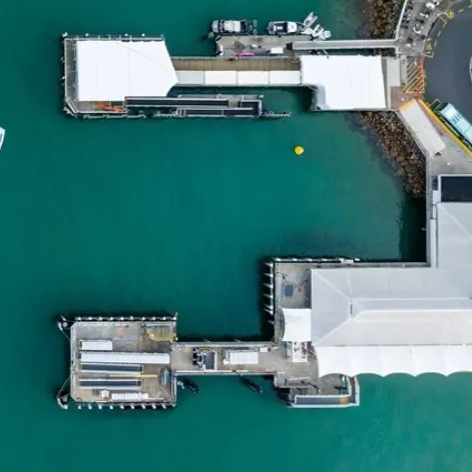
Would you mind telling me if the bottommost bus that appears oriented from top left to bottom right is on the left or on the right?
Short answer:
right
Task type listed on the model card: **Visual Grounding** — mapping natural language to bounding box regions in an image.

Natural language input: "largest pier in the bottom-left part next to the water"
[70,318,178,410]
